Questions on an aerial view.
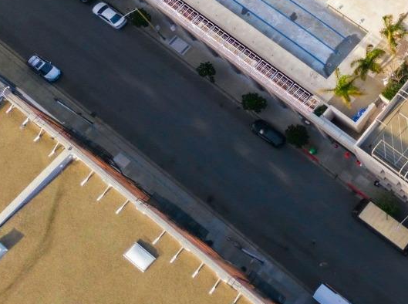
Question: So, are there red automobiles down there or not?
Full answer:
No, I can see no red automobile in this picture.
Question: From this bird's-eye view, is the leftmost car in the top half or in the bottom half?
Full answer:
You can find the leftmost car in the top half.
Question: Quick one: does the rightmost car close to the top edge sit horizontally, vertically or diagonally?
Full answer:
In this picture, the rightmost car close to the top edge lies diagonally.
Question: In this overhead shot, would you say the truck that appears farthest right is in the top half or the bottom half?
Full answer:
Seen from above, the truck that appears farthest right lies in the bottom half of the view.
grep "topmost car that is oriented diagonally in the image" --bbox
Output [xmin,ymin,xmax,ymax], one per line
[93,4,128,33]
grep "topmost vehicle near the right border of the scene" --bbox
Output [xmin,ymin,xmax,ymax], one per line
[347,197,408,257]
